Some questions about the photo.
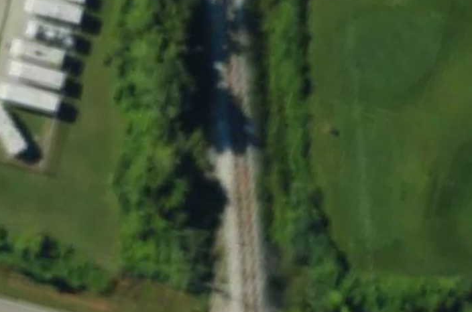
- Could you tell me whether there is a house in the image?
No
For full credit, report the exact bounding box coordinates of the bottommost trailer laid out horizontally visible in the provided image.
[0,84,62,113]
